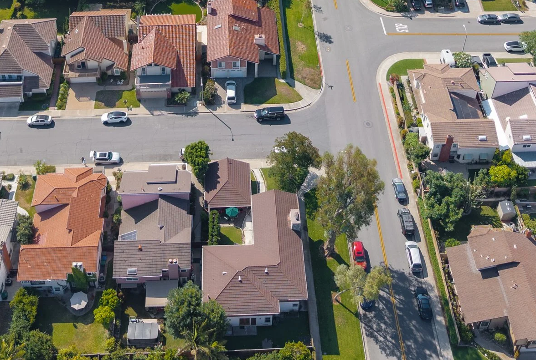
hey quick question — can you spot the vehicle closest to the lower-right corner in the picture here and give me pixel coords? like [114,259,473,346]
[414,288,431,320]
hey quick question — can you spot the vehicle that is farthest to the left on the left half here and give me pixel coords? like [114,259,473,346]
[26,114,53,128]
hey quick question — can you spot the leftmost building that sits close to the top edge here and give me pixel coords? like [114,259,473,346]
[0,16,61,107]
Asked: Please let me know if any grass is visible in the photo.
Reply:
Yes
